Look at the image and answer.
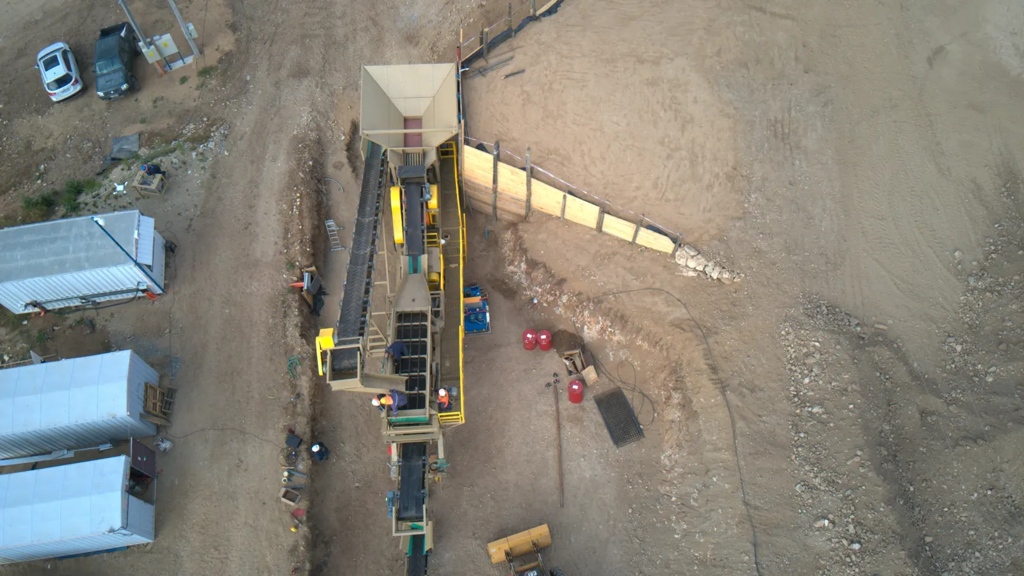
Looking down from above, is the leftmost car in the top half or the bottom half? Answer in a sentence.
The leftmost car sits in the top half of the picture.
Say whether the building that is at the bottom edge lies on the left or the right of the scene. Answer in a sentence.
It is on the left.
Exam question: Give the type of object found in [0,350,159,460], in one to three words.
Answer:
building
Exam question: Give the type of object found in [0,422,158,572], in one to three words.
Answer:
building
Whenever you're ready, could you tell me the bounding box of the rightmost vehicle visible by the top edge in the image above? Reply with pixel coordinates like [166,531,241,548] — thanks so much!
[91,28,139,101]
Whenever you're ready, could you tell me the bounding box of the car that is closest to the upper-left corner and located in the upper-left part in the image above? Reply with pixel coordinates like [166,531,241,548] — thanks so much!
[35,44,86,105]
